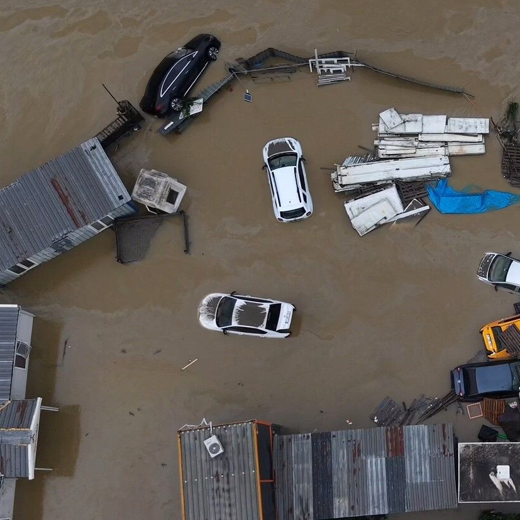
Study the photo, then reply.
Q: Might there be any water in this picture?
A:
Yes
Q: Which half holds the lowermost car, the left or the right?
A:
right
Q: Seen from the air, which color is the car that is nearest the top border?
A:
black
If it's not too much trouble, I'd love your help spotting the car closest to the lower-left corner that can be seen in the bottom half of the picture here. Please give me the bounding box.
[199,290,297,342]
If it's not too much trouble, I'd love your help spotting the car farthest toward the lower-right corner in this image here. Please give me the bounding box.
[447,353,520,403]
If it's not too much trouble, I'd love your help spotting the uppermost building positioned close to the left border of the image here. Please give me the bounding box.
[0,138,141,289]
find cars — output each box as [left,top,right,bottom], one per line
[474,249,520,300]
[137,35,211,116]
[199,290,297,342]
[447,353,520,403]
[261,137,315,226]
[476,310,520,358]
